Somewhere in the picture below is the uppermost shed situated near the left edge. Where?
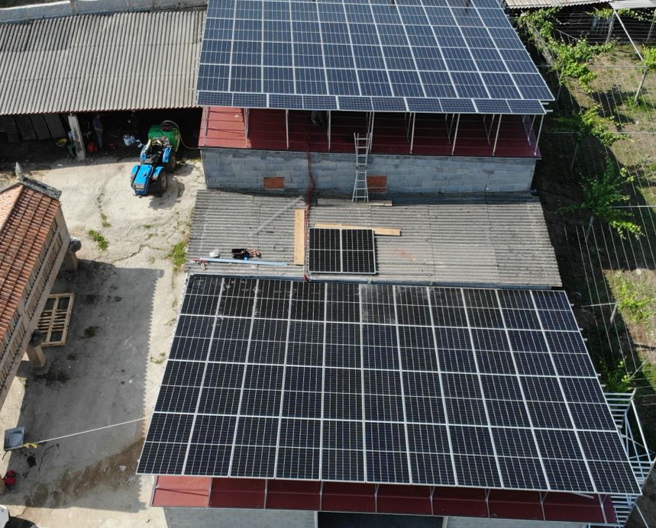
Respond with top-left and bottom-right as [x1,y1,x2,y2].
[0,8,209,157]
